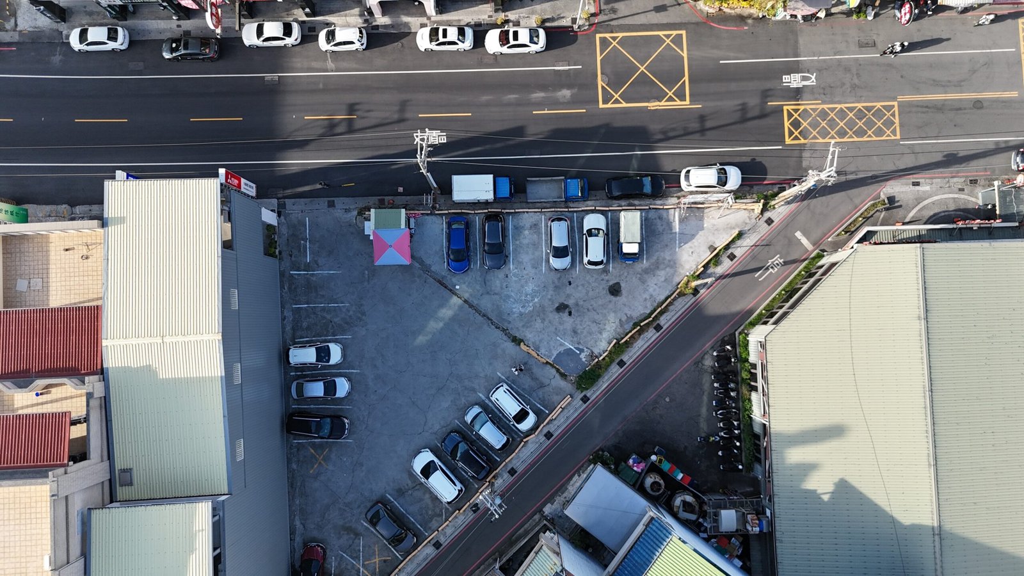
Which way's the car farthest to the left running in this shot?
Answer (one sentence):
From this overhead view, the car farthest to the left appears to run from side to side.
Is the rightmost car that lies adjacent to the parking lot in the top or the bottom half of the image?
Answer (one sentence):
It is in the top half that the rightmost car that lies adjacent to the parking lot appears.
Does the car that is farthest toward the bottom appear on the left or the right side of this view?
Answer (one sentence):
The car that is farthest toward the bottom appears in the left half of the scene.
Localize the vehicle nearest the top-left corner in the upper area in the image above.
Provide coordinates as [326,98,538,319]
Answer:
[68,23,130,53]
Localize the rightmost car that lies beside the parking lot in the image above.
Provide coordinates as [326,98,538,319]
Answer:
[680,162,741,192]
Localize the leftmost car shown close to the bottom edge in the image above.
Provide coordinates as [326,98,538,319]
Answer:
[297,542,328,576]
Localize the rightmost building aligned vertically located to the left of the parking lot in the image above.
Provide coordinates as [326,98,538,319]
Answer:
[101,176,284,576]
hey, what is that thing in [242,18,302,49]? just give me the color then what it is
white car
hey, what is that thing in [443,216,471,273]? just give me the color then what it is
blue car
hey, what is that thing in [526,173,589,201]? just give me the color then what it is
blue truck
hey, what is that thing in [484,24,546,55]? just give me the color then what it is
white car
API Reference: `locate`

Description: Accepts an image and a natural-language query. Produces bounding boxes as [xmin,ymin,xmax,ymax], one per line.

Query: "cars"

[1010,149,1024,174]
[297,542,328,576]
[161,33,221,63]
[416,22,474,52]
[486,381,538,434]
[411,446,466,507]
[285,411,350,442]
[318,24,368,54]
[242,18,302,49]
[606,171,665,200]
[680,162,741,192]
[546,216,574,271]
[290,373,352,402]
[440,427,493,485]
[463,402,512,453]
[365,499,416,555]
[484,24,546,55]
[68,23,130,53]
[479,212,508,270]
[284,339,344,368]
[443,216,471,273]
[581,213,609,269]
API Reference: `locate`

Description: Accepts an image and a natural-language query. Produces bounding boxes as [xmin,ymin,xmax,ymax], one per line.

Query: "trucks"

[618,209,645,264]
[450,171,516,201]
[526,173,589,201]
